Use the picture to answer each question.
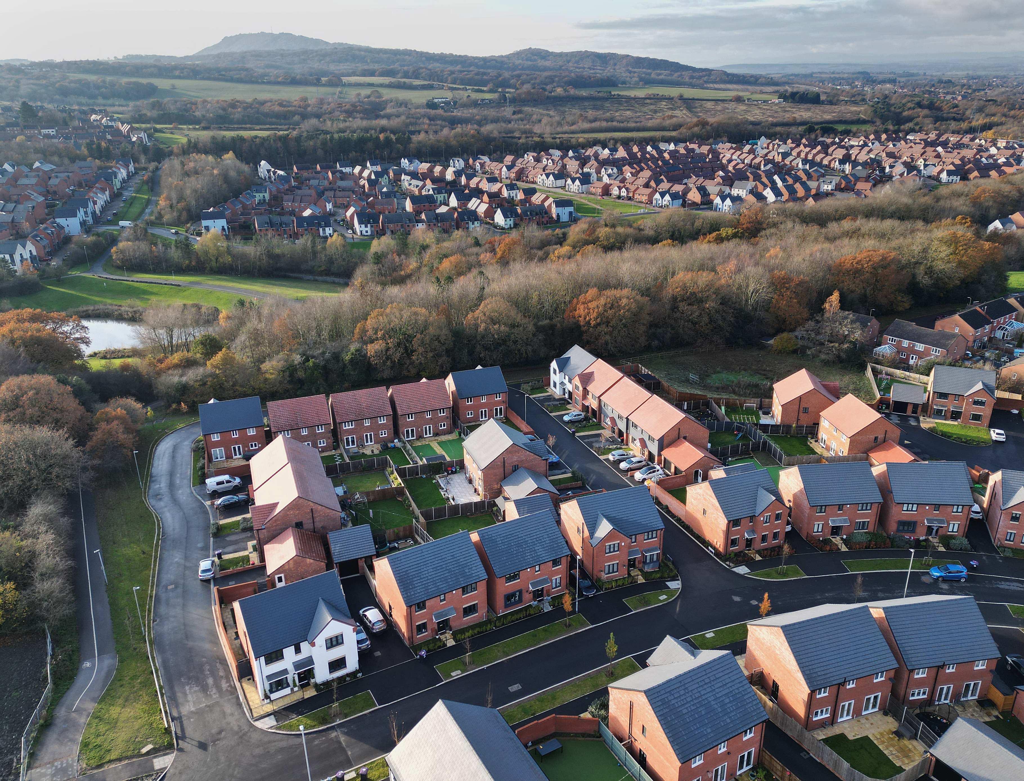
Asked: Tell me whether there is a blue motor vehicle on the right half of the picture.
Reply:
Yes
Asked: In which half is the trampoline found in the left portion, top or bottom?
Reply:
bottom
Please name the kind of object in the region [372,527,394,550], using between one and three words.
trampoline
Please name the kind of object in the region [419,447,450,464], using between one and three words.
shed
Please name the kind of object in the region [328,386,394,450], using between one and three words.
house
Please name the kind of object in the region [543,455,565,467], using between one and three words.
vehicle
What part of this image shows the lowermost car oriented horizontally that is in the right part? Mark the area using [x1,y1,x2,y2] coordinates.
[931,565,971,583]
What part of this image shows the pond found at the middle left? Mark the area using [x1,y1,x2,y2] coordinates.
[51,317,216,355]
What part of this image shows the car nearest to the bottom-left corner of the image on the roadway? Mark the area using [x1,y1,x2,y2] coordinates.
[198,557,215,579]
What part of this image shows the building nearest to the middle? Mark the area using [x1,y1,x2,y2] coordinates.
[445,361,508,424]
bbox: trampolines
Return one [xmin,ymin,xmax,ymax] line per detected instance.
[372,527,394,550]
[911,691,960,736]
